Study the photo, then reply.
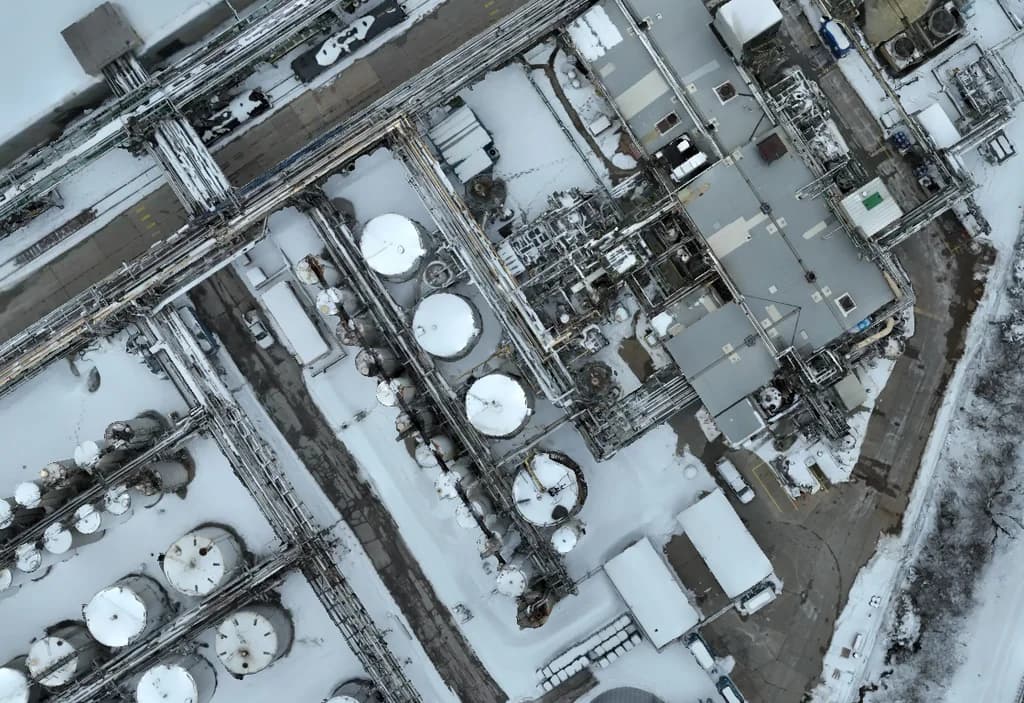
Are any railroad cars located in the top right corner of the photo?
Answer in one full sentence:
No, no railroad car appears in the top right corner of the photo.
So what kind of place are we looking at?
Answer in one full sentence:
The picture captures an industrial area.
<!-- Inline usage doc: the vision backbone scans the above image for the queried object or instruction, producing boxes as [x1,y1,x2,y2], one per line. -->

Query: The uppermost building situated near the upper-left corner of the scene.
[61,2,148,78]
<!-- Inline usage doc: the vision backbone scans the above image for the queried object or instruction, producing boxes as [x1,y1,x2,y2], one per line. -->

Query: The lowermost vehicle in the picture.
[713,671,748,703]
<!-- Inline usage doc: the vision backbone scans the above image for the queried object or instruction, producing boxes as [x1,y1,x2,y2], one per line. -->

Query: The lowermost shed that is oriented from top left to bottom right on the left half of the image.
[262,282,333,365]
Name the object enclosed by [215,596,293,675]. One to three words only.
storage tank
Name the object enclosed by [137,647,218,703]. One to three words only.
storage tank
